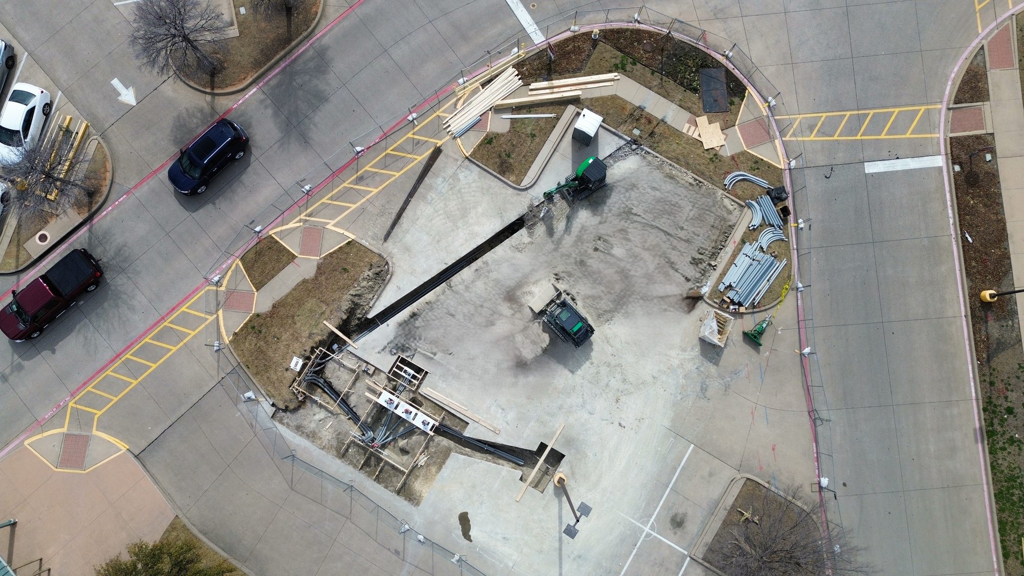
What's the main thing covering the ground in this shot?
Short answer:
paved ground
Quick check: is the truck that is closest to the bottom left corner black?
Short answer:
Yes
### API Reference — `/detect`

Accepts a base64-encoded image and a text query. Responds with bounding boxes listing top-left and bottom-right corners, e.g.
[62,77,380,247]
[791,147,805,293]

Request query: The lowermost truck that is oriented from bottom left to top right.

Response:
[0,248,105,345]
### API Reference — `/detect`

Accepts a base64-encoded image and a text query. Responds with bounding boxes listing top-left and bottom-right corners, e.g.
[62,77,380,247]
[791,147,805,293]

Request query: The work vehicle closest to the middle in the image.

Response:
[527,283,596,347]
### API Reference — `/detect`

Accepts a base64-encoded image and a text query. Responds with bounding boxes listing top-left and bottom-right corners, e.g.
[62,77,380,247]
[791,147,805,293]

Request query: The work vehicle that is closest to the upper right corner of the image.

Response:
[543,160,611,208]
